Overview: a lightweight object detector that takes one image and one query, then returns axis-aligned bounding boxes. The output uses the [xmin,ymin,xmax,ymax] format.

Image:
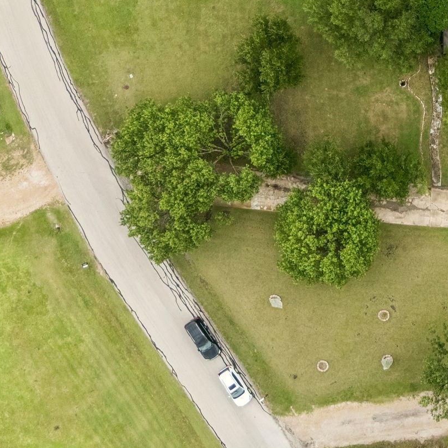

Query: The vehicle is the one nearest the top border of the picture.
[183,316,221,359]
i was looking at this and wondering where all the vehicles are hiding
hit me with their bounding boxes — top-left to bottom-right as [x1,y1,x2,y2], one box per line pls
[183,316,221,359]
[217,363,250,406]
